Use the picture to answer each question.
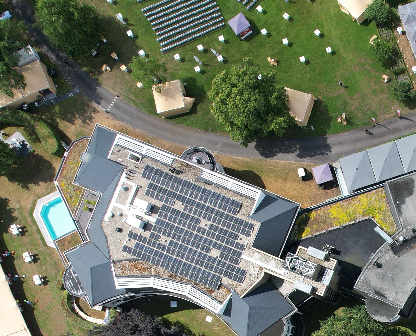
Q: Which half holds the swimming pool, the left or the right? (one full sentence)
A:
The swimming pool sits on the left side.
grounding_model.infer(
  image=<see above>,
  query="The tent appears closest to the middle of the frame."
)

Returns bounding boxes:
[153,79,195,117]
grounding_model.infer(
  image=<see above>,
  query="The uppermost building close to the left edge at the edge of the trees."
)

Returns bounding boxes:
[11,46,41,67]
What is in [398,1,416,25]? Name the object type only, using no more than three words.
umbrella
